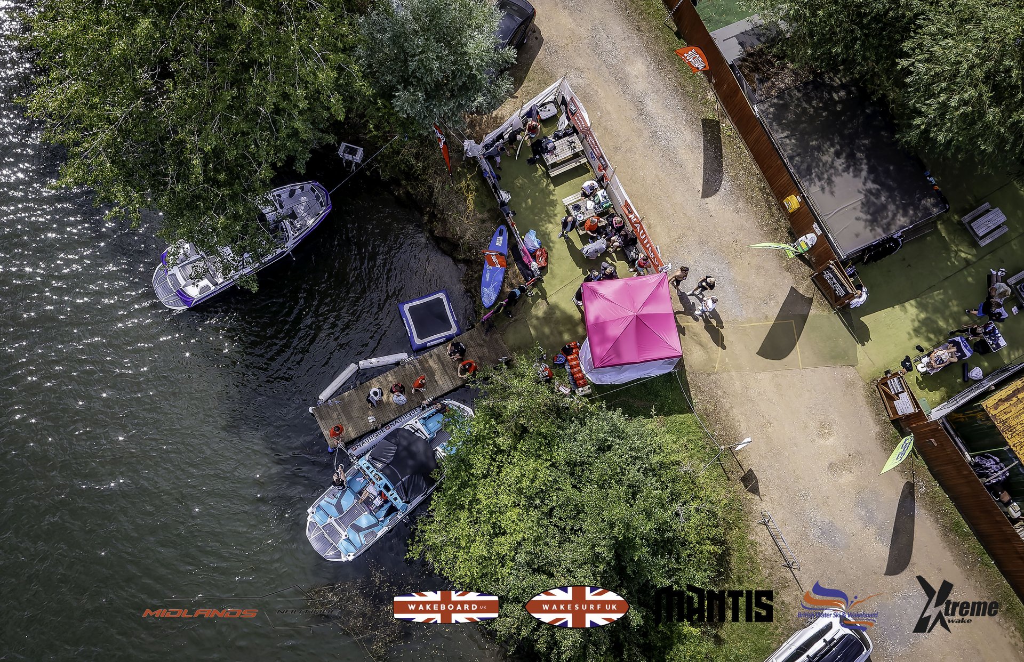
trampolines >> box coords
[398,290,462,353]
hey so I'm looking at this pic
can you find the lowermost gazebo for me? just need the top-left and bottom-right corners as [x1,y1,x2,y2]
[576,273,684,386]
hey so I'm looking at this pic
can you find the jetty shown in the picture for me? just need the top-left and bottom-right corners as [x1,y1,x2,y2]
[313,324,508,449]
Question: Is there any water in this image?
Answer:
Yes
